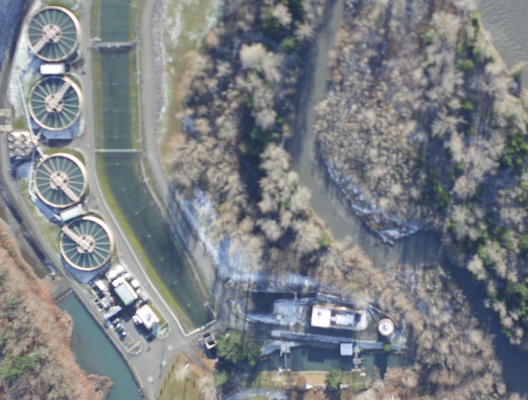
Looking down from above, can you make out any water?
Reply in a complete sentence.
Yes, the picture does contain water.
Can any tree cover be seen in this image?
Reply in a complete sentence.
Yes, the picture does contain tree cover.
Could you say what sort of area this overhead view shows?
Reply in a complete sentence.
The area seen from above is an industrial area.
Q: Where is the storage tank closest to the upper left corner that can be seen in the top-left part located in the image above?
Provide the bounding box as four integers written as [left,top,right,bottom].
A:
[26,6,82,62]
